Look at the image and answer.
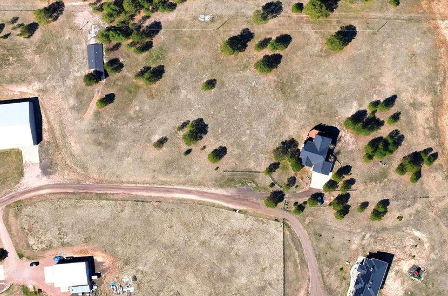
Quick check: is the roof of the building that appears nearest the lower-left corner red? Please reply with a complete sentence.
No, the color of the roof of the building that appears nearest the lower-left corner is white.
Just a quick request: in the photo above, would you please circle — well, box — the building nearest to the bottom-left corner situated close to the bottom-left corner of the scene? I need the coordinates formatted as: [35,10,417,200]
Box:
[53,260,91,287]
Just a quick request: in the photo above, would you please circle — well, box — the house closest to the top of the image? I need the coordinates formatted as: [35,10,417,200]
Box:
[87,44,106,79]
